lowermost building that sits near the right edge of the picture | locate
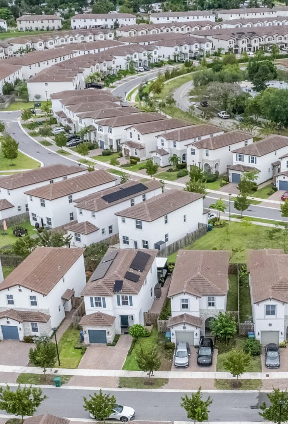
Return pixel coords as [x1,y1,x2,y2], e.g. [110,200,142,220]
[246,249,288,345]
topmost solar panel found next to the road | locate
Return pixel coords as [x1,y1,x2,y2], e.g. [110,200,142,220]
[110,179,152,198]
